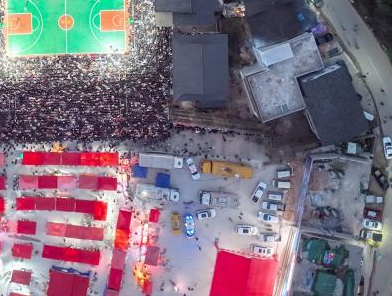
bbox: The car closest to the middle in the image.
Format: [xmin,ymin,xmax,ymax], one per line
[185,158,198,178]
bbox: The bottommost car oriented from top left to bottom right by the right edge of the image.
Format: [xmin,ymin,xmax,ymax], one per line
[371,167,388,187]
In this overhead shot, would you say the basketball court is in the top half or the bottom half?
top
